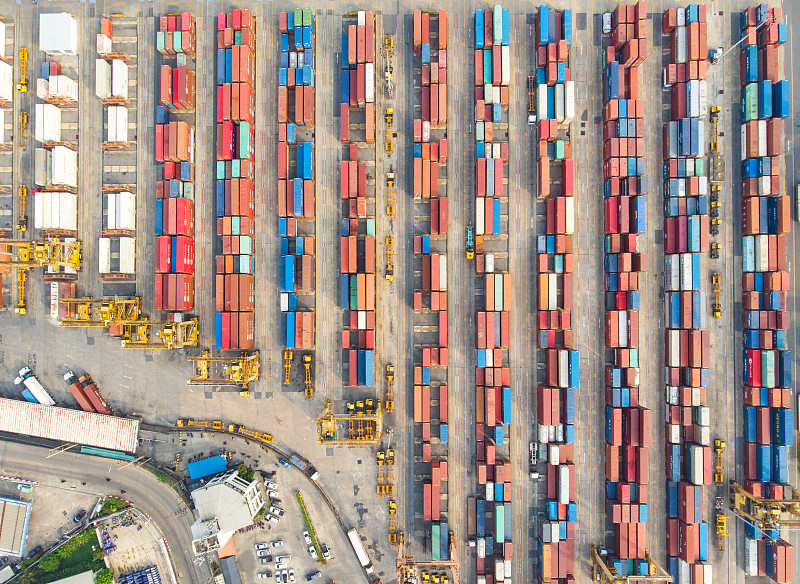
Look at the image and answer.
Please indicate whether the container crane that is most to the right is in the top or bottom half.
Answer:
bottom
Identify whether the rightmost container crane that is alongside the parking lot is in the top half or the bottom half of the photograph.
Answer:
bottom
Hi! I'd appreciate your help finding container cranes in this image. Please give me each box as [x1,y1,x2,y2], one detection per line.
[0,237,83,276]
[184,344,262,386]
[393,530,459,584]
[727,472,800,529]
[588,543,673,584]
[315,399,384,447]
[120,312,202,351]
[57,291,142,329]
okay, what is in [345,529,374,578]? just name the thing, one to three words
truck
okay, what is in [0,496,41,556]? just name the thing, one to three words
building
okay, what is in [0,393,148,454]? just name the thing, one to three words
building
